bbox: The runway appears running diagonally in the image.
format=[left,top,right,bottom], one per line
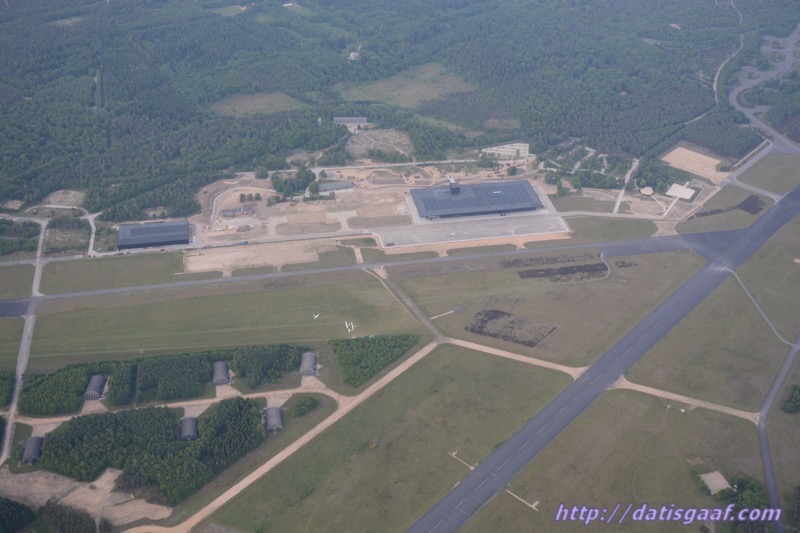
[402,184,800,533]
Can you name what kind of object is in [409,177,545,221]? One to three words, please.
building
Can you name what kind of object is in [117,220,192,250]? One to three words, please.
hangar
